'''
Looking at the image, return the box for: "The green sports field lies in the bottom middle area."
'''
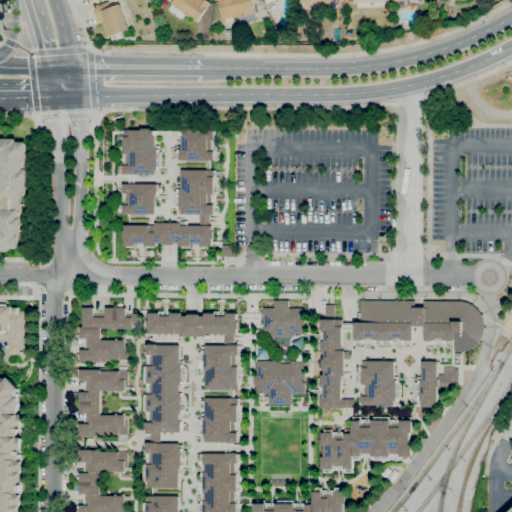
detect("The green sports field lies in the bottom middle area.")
[260,412,302,478]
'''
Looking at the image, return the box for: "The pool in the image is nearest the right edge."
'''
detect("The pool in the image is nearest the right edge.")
[398,9,418,22]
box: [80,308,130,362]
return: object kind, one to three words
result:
building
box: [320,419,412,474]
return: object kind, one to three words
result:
building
